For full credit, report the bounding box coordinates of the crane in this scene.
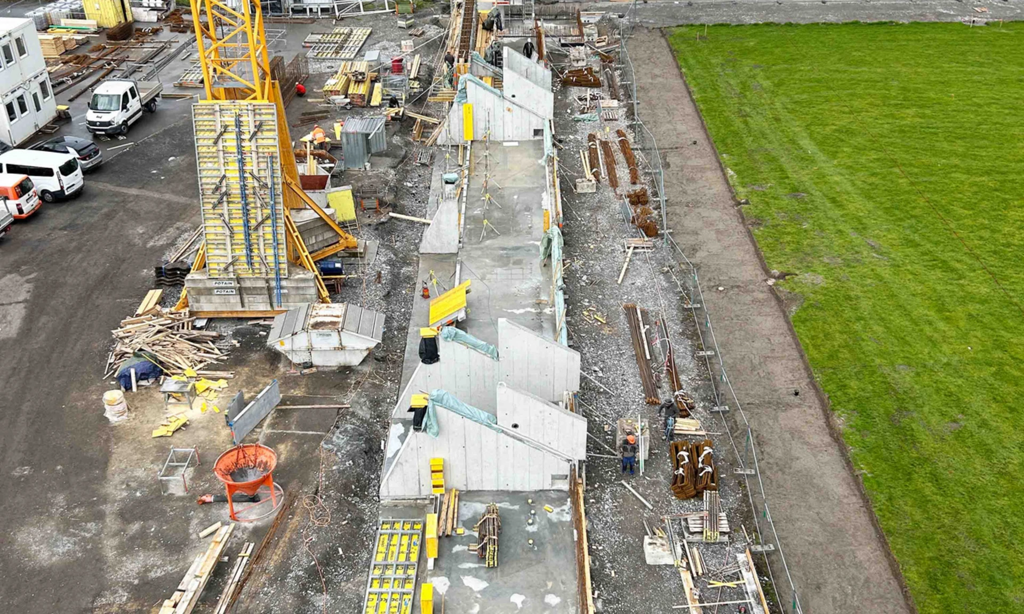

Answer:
[172,0,355,314]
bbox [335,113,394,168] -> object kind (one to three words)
shed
